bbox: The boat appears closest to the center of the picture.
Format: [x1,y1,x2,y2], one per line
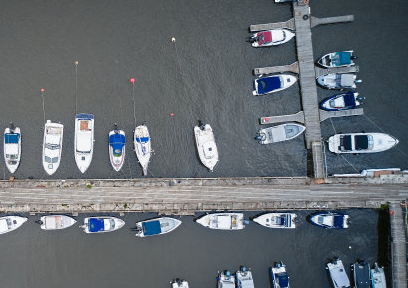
[192,121,217,179]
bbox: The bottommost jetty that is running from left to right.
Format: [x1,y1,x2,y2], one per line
[0,177,408,217]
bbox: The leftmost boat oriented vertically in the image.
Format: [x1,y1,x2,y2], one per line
[3,124,22,182]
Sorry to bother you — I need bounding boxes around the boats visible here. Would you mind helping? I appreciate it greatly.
[36,213,78,230]
[79,214,125,233]
[195,211,250,230]
[254,124,306,145]
[192,121,217,179]
[253,212,300,228]
[351,257,370,288]
[42,92,63,178]
[0,215,28,234]
[133,83,152,182]
[217,270,235,288]
[247,29,296,48]
[317,51,358,67]
[171,276,189,288]
[309,210,352,229]
[316,72,360,90]
[234,267,254,288]
[271,263,289,288]
[326,112,407,161]
[252,73,299,96]
[3,124,22,182]
[73,66,94,182]
[323,257,349,288]
[109,127,125,180]
[131,215,182,238]
[370,262,386,288]
[319,90,363,111]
